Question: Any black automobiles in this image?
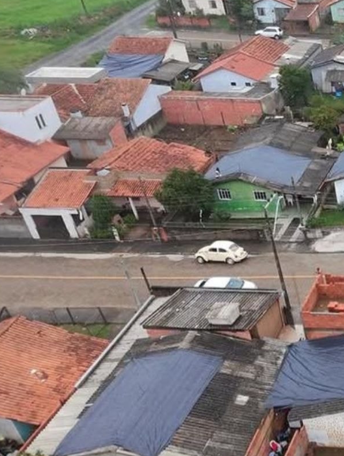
No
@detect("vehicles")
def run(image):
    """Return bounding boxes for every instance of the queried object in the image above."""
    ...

[253,24,284,38]
[195,274,257,290]
[191,243,249,266]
